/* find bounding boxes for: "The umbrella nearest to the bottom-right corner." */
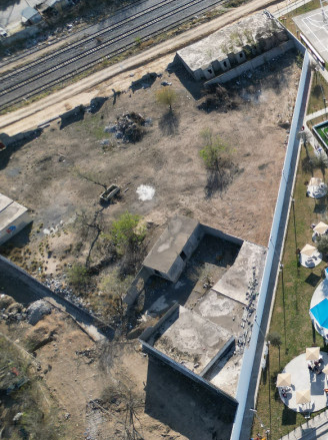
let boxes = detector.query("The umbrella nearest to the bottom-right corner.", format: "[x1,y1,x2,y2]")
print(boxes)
[295,389,313,408]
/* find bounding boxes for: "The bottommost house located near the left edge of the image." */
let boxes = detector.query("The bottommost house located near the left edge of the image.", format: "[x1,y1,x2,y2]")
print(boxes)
[0,193,36,245]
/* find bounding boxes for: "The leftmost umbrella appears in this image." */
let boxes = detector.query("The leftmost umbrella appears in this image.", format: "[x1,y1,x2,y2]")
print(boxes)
[275,373,294,391]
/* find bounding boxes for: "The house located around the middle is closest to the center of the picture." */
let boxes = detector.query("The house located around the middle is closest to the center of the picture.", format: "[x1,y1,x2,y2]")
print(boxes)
[142,216,208,287]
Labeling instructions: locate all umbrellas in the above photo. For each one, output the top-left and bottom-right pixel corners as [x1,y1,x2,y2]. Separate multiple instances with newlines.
[311,223,328,239]
[310,177,324,190]
[275,373,294,391]
[299,242,319,260]
[305,346,322,364]
[295,389,313,408]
